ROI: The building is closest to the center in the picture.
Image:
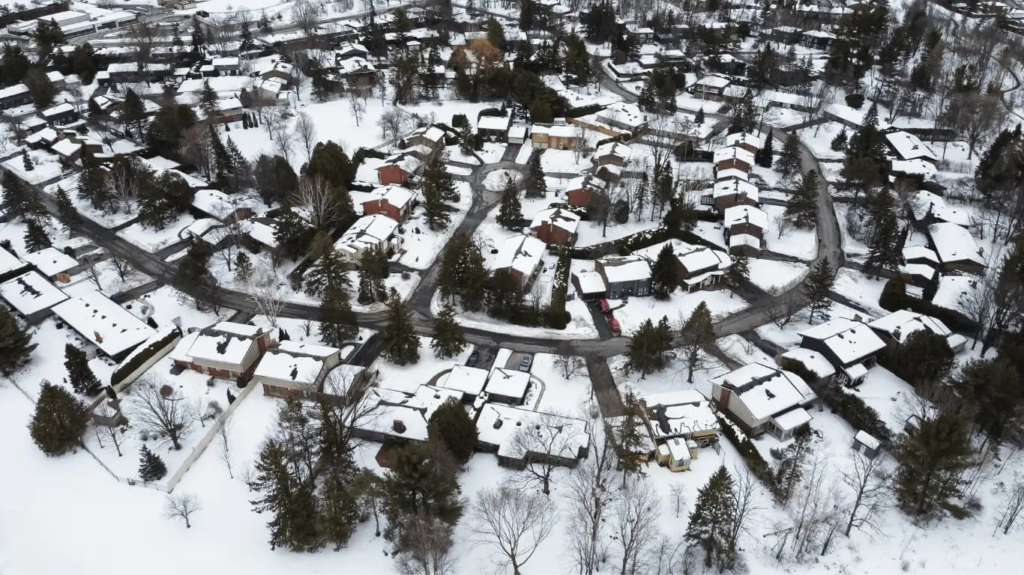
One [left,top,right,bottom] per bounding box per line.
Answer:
[490,238,546,292]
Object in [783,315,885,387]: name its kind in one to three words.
house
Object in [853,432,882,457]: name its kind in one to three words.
shed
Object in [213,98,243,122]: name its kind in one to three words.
house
